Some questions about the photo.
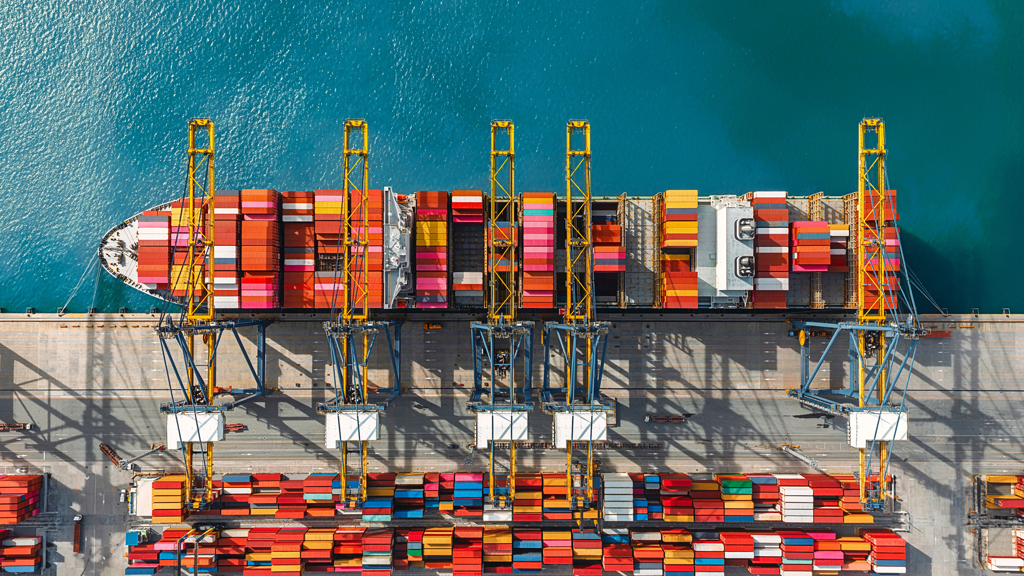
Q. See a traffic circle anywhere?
No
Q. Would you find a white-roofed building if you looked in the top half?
No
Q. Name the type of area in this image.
port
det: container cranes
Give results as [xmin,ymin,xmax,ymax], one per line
[465,116,538,508]
[317,117,415,508]
[778,116,926,508]
[152,116,286,508]
[175,524,219,576]
[537,117,614,508]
